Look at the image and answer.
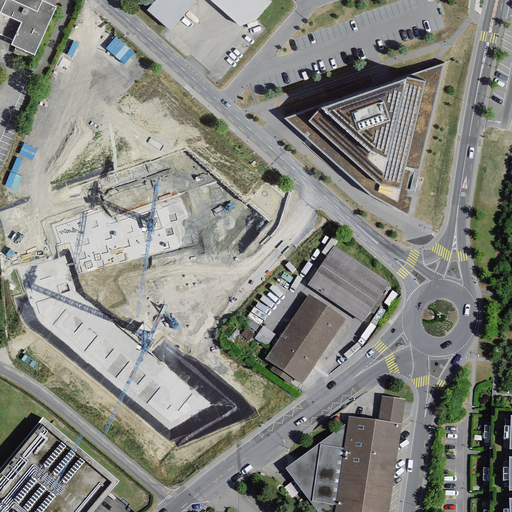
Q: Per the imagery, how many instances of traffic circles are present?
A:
1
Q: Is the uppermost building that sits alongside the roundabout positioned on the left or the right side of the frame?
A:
right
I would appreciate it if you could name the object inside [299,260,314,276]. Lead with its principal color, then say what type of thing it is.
white vehicle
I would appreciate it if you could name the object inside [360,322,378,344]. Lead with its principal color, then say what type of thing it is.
white vehicle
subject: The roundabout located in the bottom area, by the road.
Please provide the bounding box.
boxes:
[338,208,479,408]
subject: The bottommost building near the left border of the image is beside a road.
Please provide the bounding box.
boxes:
[0,417,119,512]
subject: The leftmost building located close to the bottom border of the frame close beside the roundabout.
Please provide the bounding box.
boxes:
[286,396,406,512]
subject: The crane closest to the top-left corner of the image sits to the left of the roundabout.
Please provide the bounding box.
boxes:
[134,180,158,320]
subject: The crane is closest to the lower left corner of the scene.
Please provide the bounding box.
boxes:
[80,302,165,474]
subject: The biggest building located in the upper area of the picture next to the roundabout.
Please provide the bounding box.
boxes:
[285,63,444,216]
